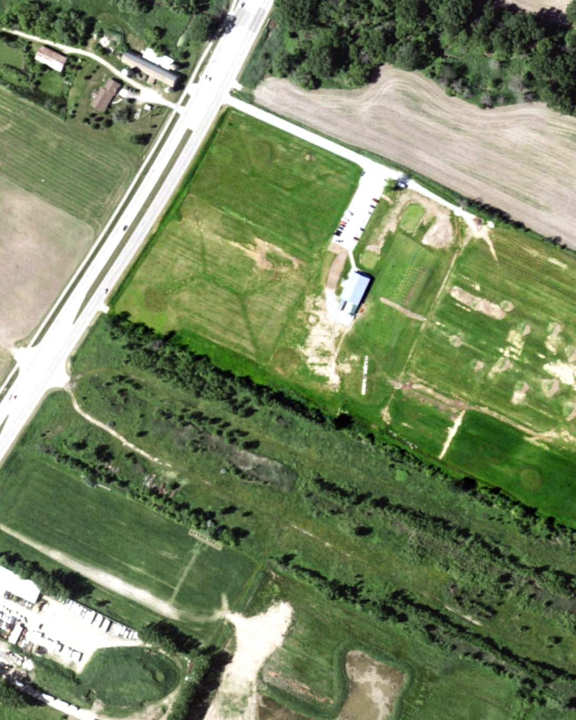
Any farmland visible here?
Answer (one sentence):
Yes, some farmland is visible.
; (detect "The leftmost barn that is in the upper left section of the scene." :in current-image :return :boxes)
[36,45,66,71]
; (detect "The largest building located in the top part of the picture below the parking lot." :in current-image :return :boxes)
[335,268,370,305]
